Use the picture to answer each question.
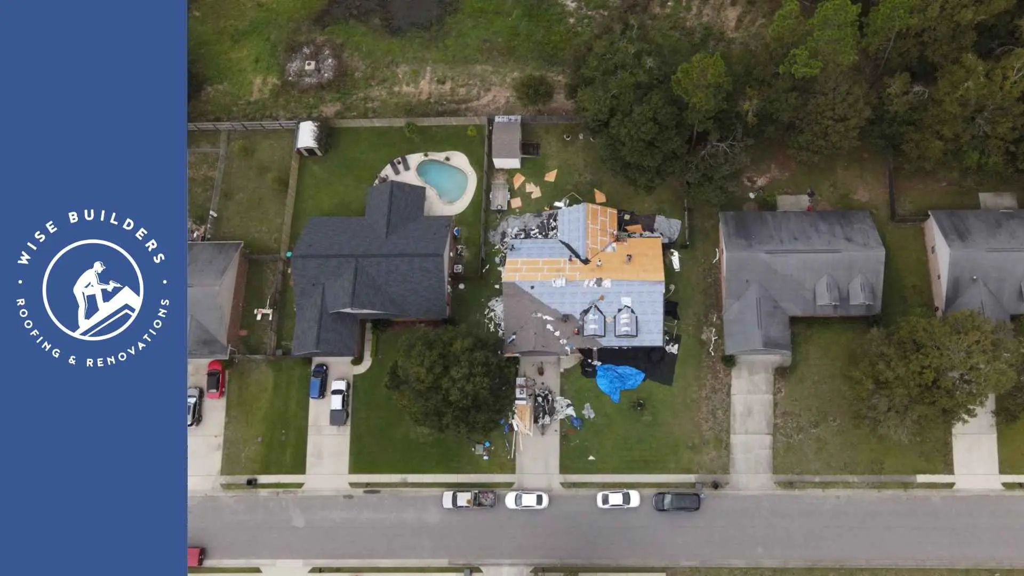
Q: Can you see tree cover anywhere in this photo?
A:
Yes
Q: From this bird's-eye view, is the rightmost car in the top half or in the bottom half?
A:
bottom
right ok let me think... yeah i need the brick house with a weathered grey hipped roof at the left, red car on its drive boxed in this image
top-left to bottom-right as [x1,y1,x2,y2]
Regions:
[72,240,247,362]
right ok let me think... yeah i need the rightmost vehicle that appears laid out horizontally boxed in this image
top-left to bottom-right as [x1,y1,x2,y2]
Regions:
[653,491,701,514]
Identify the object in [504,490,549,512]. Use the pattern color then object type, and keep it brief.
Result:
white car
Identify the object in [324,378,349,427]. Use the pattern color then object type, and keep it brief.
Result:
white truck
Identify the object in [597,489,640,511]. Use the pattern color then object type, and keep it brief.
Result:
white car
